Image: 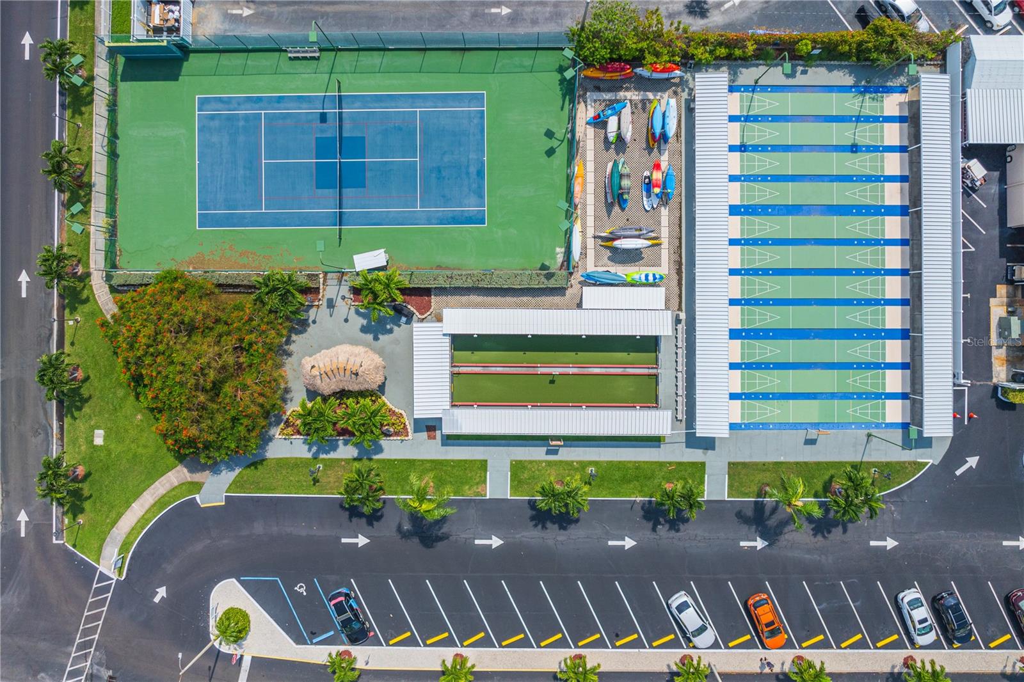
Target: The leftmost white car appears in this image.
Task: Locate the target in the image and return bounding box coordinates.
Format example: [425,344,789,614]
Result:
[669,591,712,646]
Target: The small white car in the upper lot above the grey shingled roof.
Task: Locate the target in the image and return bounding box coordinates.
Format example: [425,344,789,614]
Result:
[968,0,1012,31]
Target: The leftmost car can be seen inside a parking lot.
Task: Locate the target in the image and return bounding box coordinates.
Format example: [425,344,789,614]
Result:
[329,589,371,641]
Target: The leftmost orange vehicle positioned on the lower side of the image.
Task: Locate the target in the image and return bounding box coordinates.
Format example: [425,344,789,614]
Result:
[748,593,785,645]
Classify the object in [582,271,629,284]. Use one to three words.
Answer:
boat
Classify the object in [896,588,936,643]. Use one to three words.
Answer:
car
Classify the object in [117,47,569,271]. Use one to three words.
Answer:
tennis court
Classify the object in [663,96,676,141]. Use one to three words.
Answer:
boat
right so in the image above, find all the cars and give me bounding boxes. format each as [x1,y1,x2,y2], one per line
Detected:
[1009,587,1024,635]
[933,590,975,643]
[896,588,936,643]
[748,593,785,645]
[881,0,928,35]
[329,589,371,641]
[669,591,712,646]
[968,0,1012,31]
